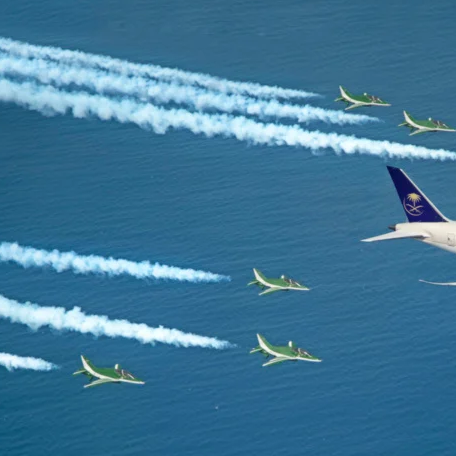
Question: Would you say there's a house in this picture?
No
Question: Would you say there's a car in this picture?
No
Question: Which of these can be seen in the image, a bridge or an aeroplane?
aeroplane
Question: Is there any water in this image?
Yes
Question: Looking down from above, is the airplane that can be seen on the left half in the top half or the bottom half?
bottom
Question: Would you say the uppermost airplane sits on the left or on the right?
right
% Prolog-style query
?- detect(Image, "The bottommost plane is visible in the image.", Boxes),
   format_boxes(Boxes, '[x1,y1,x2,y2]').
[72,355,148,388]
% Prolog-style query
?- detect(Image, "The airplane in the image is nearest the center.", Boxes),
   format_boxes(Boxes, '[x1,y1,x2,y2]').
[247,269,311,295]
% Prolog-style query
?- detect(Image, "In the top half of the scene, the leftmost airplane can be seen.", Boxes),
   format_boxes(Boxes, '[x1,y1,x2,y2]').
[334,86,395,110]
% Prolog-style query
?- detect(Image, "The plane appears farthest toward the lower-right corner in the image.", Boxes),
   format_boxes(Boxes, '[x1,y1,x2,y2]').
[249,334,321,367]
